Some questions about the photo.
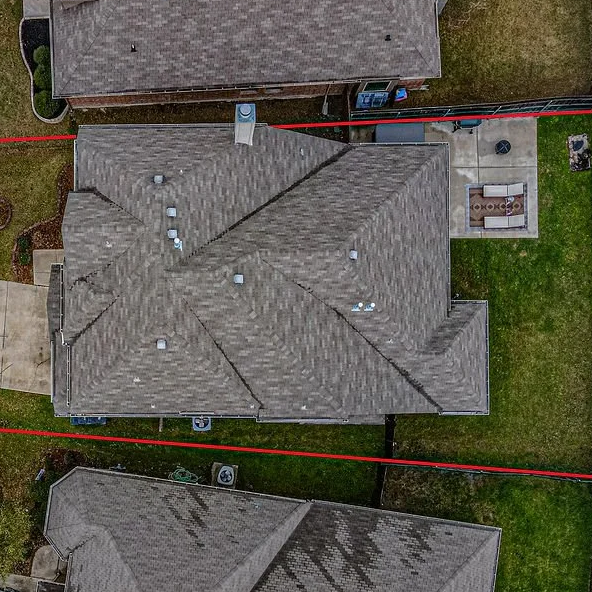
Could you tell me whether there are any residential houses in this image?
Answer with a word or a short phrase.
Yes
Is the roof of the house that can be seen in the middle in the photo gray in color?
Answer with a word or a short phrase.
Yes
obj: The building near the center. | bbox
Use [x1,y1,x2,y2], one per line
[47,102,491,425]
